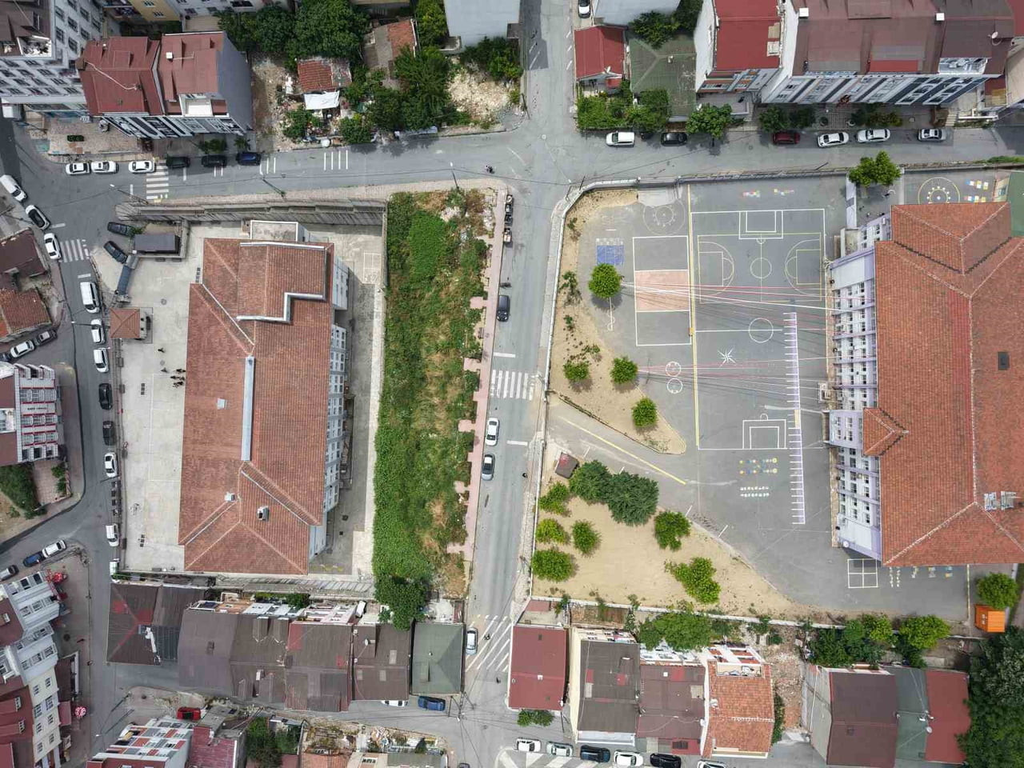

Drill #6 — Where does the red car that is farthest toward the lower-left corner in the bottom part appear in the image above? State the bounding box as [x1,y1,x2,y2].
[177,706,203,720]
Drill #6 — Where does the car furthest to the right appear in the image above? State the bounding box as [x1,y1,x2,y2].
[916,128,945,142]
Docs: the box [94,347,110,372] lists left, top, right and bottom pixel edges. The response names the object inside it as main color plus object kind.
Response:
white car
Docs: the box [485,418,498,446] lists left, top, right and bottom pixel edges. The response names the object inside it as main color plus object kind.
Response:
white vehicle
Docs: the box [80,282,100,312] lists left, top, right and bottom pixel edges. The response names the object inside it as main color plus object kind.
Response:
white vehicle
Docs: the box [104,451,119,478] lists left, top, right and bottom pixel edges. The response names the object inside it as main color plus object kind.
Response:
white car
